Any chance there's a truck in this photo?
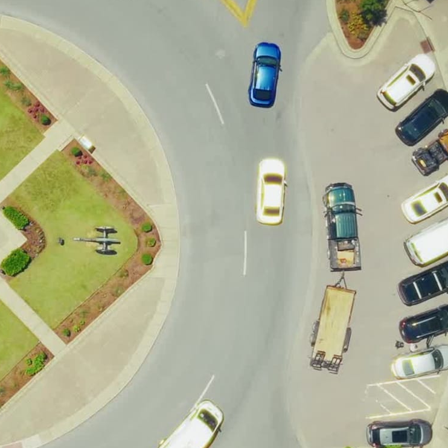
Yes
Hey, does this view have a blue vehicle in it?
Yes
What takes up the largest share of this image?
paved ground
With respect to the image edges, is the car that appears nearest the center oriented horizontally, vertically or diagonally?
vertically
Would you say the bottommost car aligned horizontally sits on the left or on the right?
right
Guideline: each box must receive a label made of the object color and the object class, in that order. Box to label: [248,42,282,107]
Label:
blue car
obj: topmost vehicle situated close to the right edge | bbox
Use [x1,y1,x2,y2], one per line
[373,54,437,110]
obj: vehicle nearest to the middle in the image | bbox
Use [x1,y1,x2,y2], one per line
[255,159,289,223]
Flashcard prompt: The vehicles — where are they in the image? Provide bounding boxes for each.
[248,42,282,107]
[399,175,448,225]
[390,342,448,379]
[163,394,228,448]
[397,305,448,347]
[391,88,448,145]
[324,183,365,272]
[365,418,431,448]
[400,220,448,266]
[373,54,437,110]
[255,159,289,223]
[406,130,448,178]
[396,261,448,305]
